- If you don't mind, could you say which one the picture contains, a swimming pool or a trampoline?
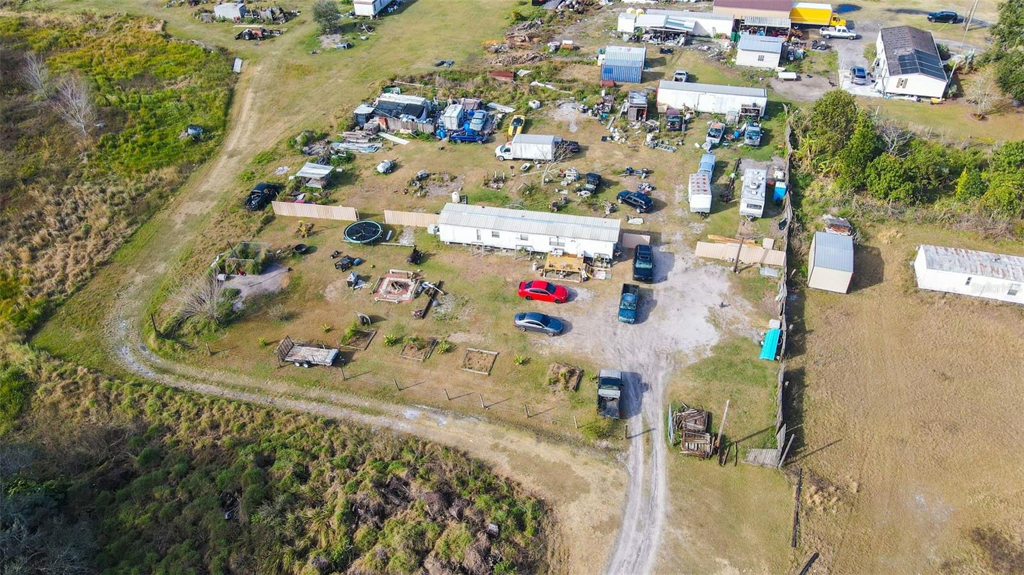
trampoline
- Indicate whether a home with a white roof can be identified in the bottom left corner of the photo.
No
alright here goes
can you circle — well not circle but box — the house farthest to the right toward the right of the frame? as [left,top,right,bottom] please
[913,241,1024,304]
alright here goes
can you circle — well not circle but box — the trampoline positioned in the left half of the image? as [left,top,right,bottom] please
[343,221,382,248]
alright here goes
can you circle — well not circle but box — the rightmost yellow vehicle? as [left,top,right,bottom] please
[788,0,848,25]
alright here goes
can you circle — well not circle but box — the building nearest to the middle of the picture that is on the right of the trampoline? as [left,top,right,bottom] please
[438,202,621,261]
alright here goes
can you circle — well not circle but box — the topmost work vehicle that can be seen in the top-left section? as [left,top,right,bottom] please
[233,23,264,38]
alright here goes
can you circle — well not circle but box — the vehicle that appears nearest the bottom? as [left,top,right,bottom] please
[597,369,624,423]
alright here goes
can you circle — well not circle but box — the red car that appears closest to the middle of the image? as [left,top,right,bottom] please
[520,278,572,302]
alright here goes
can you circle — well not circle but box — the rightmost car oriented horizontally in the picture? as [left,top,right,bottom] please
[926,8,961,24]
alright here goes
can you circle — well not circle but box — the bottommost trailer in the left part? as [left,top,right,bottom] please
[270,329,349,364]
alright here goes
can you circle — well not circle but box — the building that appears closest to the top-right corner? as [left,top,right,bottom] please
[869,25,953,100]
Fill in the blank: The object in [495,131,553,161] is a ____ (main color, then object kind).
white van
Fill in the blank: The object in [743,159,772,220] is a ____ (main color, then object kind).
white camper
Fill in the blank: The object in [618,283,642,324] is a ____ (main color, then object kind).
blue vehicle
